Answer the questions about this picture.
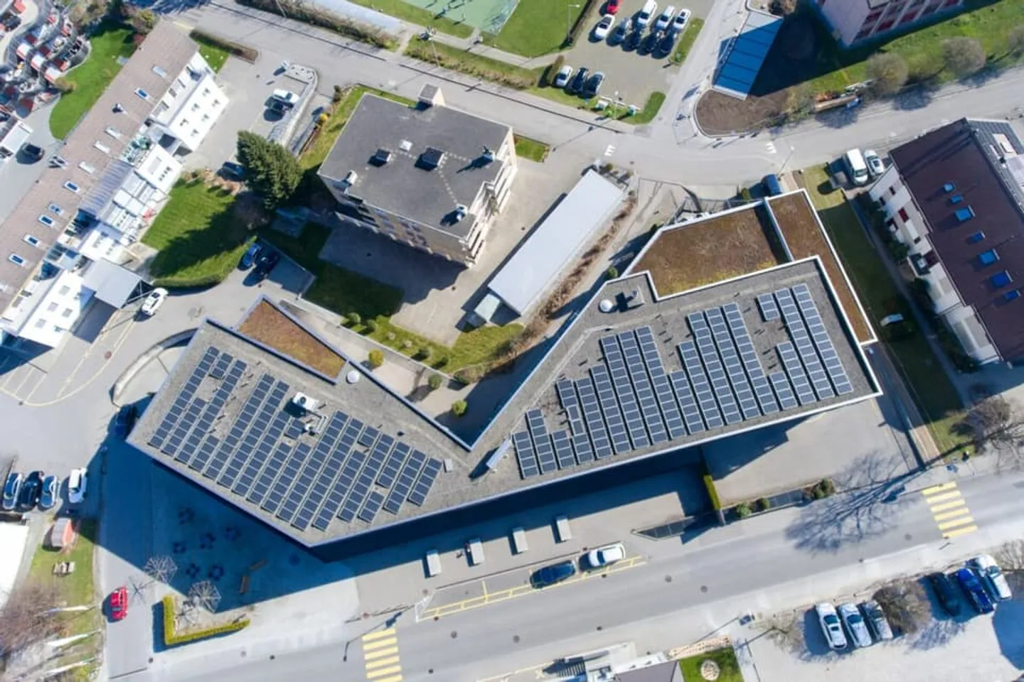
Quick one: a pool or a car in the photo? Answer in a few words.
car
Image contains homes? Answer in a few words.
Yes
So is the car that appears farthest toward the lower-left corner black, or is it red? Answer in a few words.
red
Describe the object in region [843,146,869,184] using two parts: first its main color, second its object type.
white vehicle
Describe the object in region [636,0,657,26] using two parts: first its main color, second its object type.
white vehicle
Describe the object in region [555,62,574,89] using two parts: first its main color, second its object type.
white car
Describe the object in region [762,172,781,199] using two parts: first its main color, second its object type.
blue car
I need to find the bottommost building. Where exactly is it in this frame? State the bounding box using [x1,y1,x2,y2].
[585,642,679,682]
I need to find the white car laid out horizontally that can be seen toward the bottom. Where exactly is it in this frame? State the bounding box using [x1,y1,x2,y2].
[585,545,624,568]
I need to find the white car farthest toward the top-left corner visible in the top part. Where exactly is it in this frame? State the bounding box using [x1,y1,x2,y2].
[272,86,302,107]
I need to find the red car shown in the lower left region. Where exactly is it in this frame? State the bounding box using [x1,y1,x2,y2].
[110,584,131,621]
